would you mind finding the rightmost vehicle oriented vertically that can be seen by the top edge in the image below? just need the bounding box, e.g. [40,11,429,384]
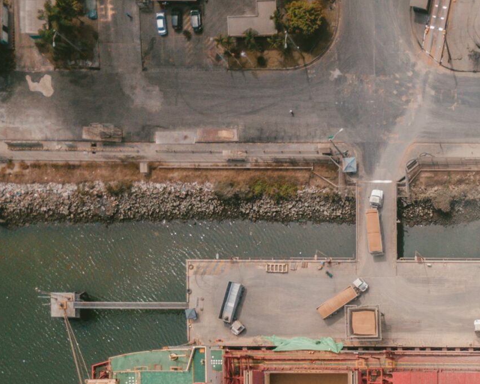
[191,10,203,34]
